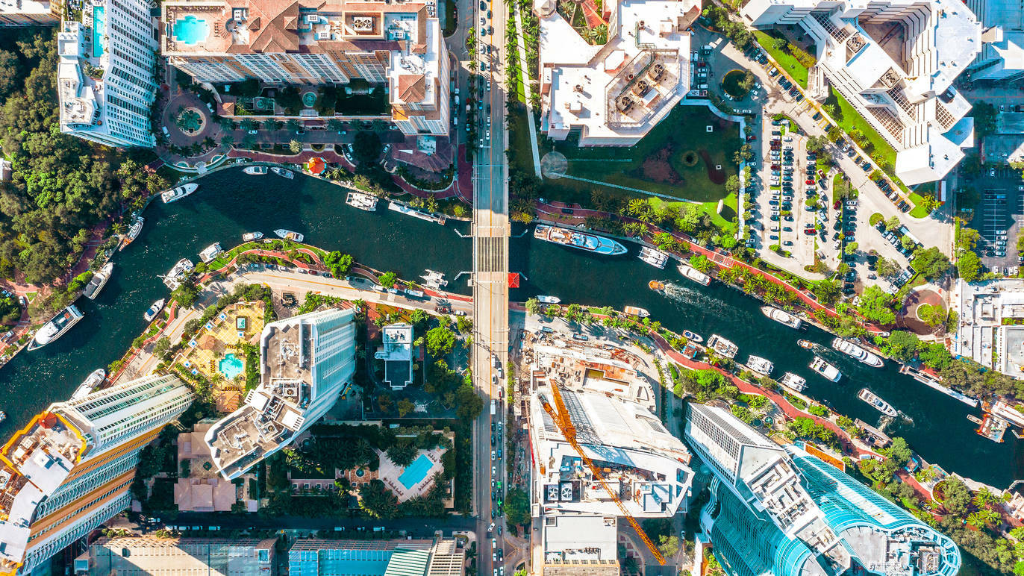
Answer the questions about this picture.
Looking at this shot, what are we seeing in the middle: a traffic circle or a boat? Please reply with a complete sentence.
The one visible in the middle is a boat.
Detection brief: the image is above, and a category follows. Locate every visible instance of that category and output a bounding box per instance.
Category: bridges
[467,0,511,576]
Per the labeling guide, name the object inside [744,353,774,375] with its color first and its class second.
white boat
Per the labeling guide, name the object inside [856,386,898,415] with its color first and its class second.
white boat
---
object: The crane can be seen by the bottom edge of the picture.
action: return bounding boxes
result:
[544,371,668,569]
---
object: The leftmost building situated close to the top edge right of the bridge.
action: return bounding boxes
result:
[531,0,702,143]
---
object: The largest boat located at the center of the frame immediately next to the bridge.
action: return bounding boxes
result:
[532,222,629,252]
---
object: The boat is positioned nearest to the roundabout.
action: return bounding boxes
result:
[831,336,884,364]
